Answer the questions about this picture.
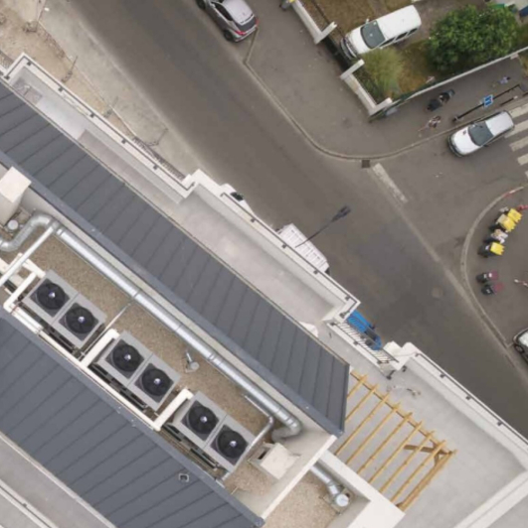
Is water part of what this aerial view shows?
No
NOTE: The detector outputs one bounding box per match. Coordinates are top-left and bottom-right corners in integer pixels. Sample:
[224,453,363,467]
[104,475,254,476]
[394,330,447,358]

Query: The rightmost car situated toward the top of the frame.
[442,106,519,160]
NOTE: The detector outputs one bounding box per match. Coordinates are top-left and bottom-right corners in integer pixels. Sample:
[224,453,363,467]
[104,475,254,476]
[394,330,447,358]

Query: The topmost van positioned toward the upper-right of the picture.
[341,0,428,62]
